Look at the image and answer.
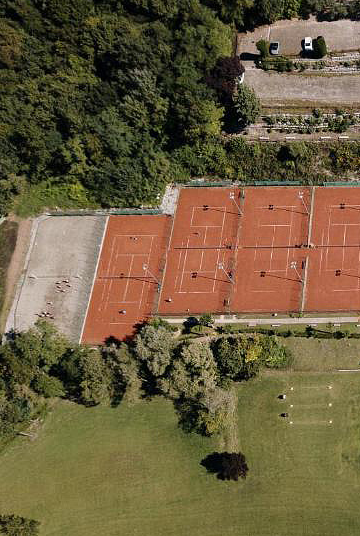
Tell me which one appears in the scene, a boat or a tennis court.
tennis court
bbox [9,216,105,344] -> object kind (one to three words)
sports court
